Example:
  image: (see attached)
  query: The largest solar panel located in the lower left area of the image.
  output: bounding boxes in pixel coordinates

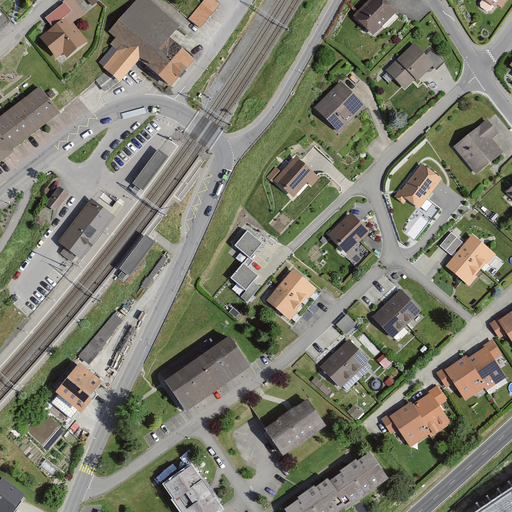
[62,380,88,402]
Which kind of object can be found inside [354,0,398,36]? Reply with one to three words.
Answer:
house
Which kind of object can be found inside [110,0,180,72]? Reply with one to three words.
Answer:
barn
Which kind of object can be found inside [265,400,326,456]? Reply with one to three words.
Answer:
building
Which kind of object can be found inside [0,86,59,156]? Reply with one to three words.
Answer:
house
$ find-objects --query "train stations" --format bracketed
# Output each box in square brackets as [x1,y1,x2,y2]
[58,198,114,262]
